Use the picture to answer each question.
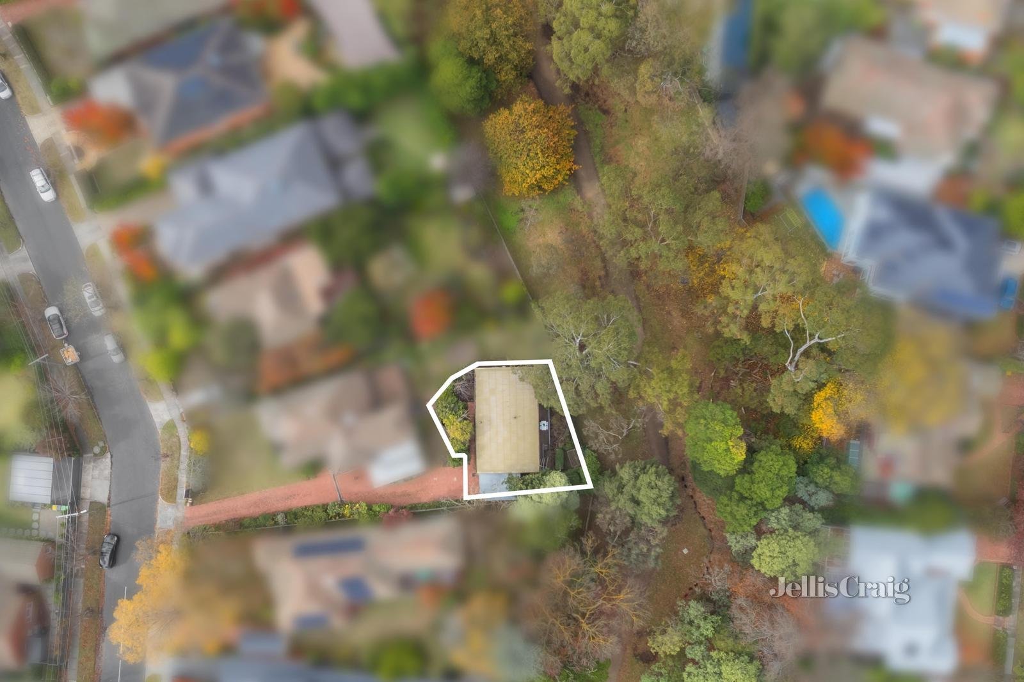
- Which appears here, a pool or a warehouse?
pool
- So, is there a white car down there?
Yes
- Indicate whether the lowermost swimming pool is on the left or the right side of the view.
right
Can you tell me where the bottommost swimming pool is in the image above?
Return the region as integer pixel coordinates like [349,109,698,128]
[802,186,844,249]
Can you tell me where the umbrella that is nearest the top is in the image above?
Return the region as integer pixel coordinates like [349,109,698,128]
[432,152,449,169]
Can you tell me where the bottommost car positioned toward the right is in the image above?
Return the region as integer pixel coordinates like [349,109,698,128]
[1000,275,1021,310]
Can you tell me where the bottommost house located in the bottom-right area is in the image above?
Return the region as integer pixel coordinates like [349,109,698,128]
[843,527,976,676]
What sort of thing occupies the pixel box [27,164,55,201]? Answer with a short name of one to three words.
car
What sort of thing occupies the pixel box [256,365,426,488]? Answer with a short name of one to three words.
house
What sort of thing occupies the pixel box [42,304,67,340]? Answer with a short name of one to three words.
car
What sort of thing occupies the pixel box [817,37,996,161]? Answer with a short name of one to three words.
house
